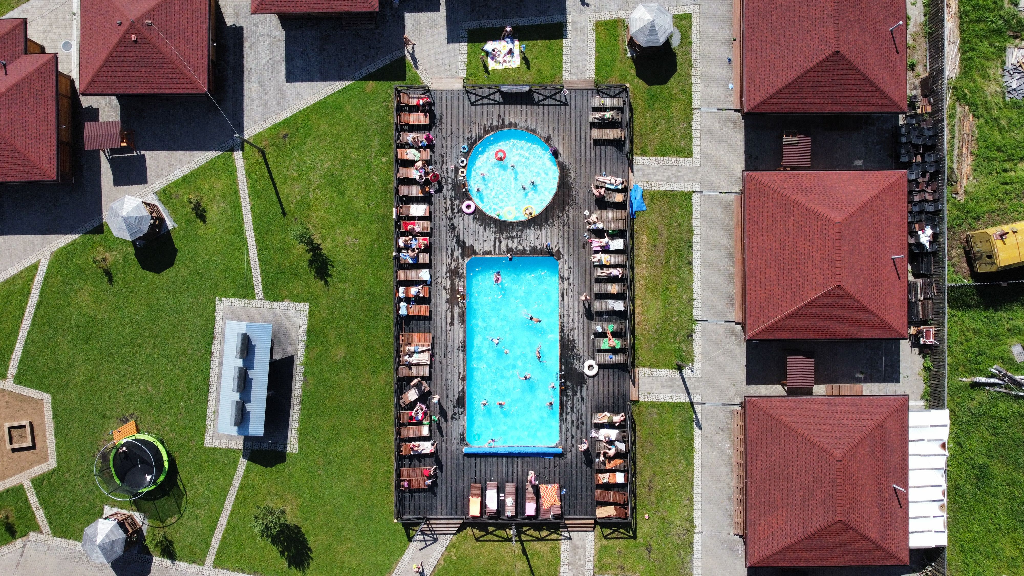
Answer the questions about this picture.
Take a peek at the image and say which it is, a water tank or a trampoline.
trampoline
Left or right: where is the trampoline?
left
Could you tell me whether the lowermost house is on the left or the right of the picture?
right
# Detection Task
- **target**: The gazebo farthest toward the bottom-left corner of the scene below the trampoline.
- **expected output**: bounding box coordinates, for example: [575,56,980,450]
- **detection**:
[81,513,138,564]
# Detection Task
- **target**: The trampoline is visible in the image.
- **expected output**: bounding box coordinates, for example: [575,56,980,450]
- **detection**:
[94,434,171,500]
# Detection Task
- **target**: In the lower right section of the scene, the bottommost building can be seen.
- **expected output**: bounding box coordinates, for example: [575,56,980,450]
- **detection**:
[741,394,911,568]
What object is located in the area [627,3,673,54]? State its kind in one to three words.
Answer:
gazebo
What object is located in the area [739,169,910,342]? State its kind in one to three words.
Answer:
house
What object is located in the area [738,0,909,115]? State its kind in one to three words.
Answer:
house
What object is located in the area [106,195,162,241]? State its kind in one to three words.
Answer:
gazebo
